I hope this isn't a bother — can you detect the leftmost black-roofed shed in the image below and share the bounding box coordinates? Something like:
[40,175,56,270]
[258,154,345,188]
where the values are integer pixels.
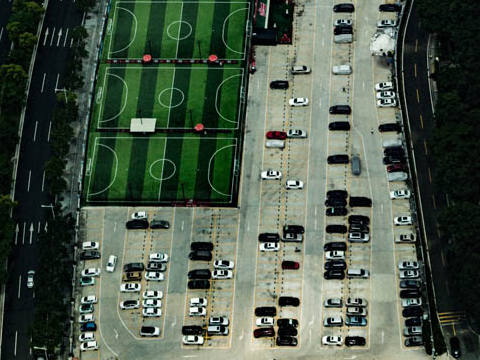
[251,27,272,44]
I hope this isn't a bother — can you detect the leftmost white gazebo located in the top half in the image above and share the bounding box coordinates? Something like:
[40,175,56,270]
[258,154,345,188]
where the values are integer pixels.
[130,118,156,138]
